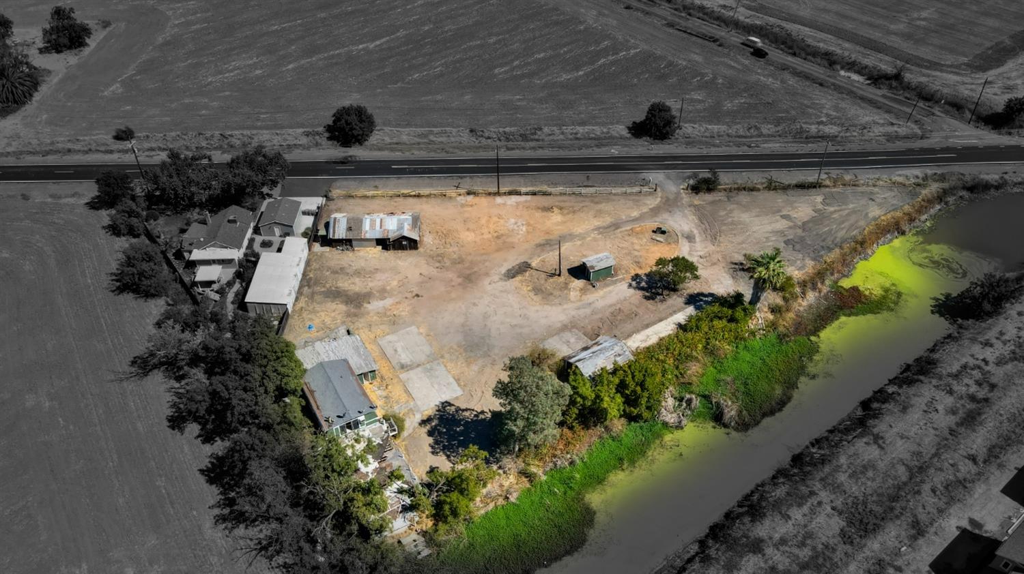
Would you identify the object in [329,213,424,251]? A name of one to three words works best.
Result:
barn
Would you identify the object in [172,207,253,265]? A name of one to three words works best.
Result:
house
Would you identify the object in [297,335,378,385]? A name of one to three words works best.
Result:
shed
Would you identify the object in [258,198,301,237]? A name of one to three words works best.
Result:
building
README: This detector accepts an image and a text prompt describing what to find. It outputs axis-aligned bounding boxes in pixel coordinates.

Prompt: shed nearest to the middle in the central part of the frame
[575,250,615,280]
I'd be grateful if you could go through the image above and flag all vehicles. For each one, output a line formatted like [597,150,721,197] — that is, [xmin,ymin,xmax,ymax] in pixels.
[753,49,769,58]
[745,37,762,49]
